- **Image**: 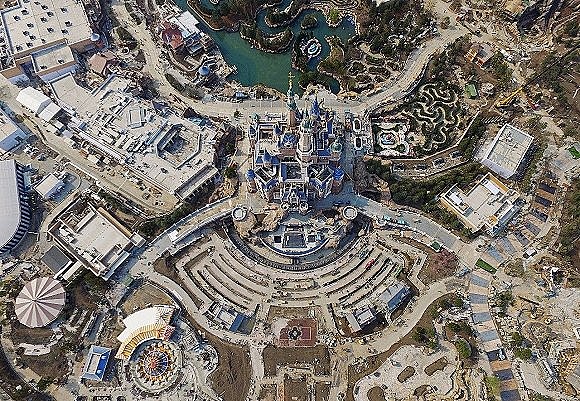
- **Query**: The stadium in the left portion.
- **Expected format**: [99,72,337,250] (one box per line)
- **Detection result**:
[0,156,37,260]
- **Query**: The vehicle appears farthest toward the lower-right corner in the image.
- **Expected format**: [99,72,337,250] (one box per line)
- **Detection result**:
[496,347,508,362]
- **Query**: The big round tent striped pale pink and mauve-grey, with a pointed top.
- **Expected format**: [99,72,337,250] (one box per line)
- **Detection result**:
[15,277,67,328]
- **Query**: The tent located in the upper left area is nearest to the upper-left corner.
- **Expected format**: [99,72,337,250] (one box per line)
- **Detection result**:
[16,87,52,115]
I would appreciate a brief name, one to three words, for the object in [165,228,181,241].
vehicle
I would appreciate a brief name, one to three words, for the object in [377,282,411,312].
building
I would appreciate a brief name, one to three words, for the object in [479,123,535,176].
building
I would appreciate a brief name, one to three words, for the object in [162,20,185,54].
house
